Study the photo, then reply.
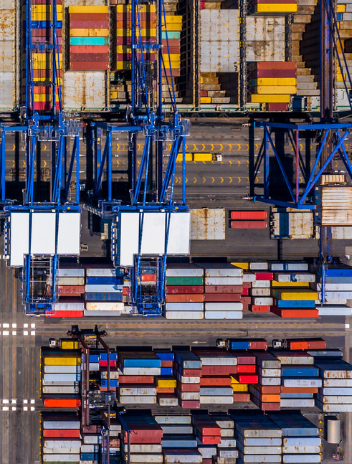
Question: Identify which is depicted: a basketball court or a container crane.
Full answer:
Visible in the photo is a container crane.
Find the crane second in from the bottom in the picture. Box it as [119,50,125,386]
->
[66,328,113,429]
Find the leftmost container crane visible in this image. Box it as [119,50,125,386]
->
[0,0,82,315]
